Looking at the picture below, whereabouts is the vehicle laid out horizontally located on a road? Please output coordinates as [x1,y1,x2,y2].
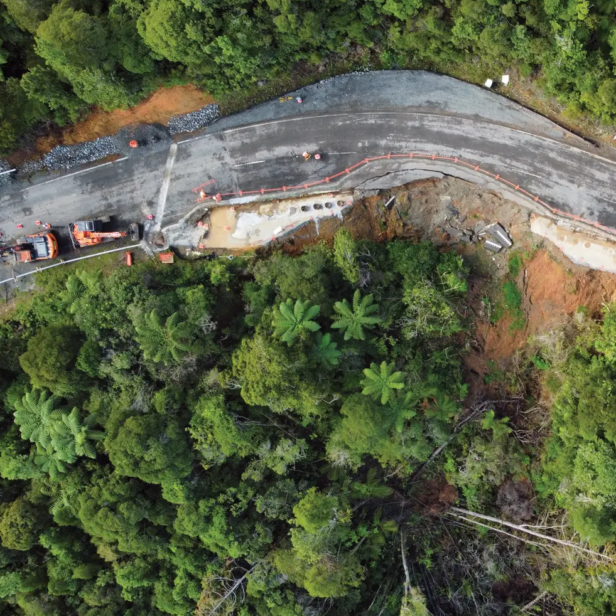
[69,221,141,249]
